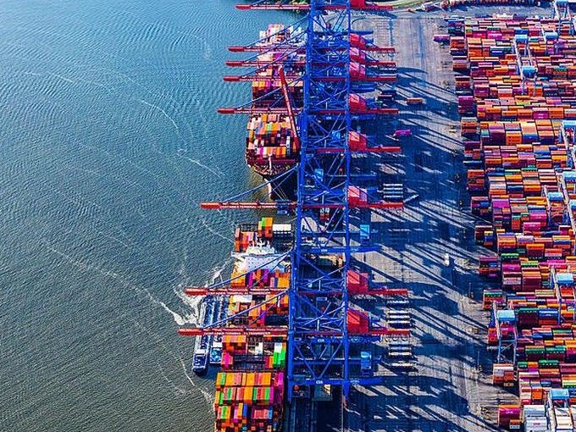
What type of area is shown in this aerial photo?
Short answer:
port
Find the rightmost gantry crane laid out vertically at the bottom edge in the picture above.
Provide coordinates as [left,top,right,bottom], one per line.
[548,385,575,432]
